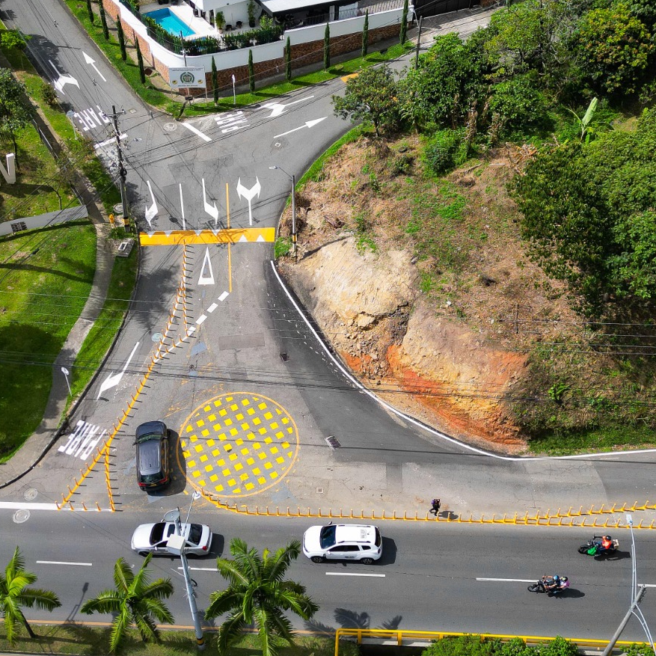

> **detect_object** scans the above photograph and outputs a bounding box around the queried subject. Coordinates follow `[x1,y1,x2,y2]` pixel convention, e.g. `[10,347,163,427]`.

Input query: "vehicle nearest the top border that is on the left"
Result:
[131,416,172,489]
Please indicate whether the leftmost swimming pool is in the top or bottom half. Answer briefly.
top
